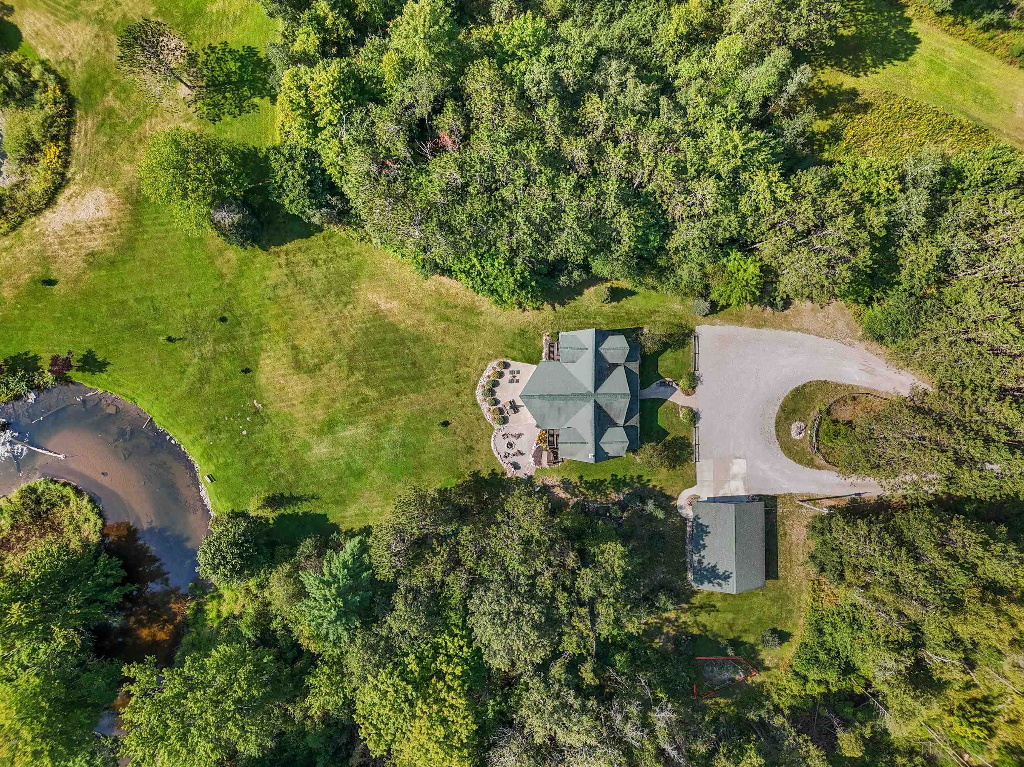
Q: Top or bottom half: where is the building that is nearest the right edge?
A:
bottom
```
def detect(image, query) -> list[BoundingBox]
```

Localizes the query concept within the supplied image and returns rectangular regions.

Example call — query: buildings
[690,502,766,594]
[520,328,640,463]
